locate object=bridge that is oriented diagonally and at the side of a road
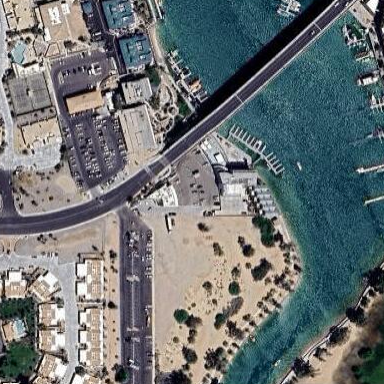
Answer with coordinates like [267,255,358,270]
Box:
[152,0,357,178]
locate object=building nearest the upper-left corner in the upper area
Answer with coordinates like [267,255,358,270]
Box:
[3,0,33,30]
